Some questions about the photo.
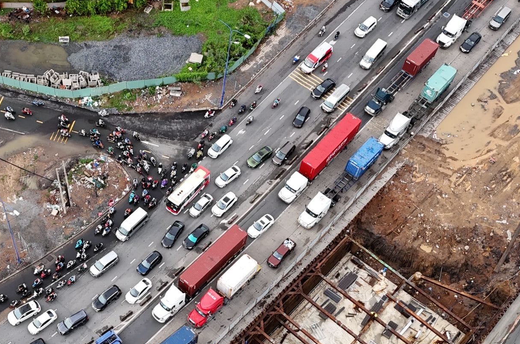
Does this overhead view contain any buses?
Yes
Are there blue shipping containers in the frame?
Yes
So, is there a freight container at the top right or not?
Yes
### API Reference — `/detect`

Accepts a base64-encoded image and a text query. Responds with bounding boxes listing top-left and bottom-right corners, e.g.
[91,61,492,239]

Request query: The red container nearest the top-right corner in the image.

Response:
[400,38,439,79]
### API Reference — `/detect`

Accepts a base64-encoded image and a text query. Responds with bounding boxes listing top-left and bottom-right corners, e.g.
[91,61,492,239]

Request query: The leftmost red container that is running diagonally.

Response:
[177,222,250,300]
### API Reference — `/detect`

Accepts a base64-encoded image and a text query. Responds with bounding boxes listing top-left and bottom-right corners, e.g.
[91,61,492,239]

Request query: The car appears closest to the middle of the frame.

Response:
[247,144,276,170]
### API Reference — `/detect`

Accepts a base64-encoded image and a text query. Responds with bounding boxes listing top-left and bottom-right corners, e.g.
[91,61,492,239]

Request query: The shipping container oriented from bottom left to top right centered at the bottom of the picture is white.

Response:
[215,251,261,300]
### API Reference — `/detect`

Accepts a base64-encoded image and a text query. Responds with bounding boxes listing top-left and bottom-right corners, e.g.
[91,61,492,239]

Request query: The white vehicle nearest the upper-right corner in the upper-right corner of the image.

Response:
[432,12,469,48]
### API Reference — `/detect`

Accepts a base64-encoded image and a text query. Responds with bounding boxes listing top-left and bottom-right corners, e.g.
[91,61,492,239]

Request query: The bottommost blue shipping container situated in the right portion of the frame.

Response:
[342,134,386,179]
